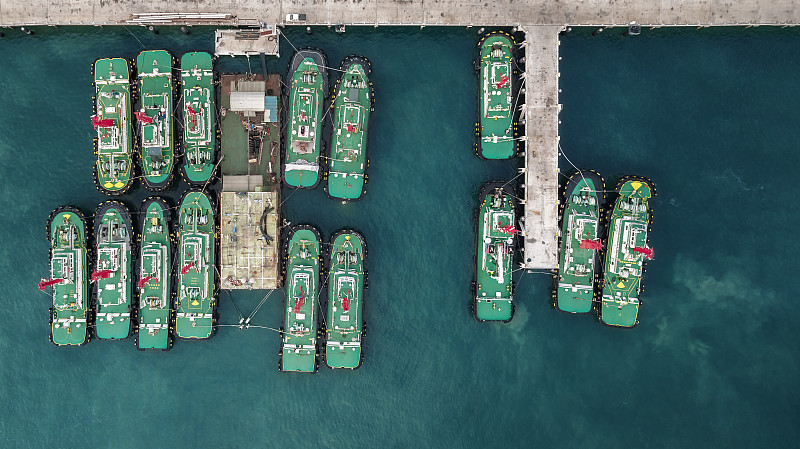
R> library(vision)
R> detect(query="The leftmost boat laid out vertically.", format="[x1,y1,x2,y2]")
[34,204,93,348]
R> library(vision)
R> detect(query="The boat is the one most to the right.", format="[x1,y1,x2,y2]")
[597,175,662,331]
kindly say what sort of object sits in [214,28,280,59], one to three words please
pier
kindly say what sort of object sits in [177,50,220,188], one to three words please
boat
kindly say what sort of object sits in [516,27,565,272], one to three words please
pier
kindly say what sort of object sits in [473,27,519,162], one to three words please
boat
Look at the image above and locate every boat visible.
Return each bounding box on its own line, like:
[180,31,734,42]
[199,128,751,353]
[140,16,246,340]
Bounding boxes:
[597,175,662,331]
[177,50,220,188]
[127,194,176,351]
[82,198,137,341]
[130,47,180,194]
[278,223,325,376]
[84,56,137,200]
[282,45,329,191]
[323,226,367,371]
[327,52,375,205]
[472,180,518,323]
[553,166,608,315]
[34,204,93,348]
[473,27,519,162]
[173,187,218,341]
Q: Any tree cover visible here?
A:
No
